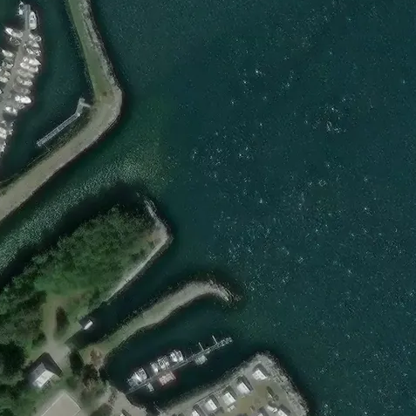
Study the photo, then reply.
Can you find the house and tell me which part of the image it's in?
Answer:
bottom left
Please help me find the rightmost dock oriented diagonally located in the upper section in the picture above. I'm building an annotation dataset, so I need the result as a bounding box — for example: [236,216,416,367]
[37,98,91,150]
